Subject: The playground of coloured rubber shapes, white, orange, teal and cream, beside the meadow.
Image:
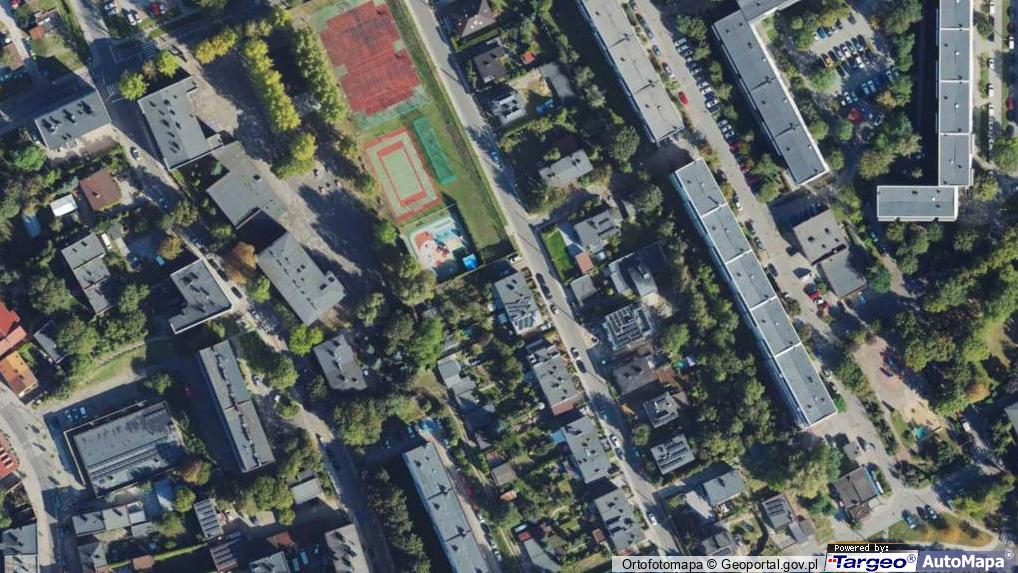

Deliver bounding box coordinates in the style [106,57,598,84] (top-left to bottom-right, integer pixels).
[402,210,482,280]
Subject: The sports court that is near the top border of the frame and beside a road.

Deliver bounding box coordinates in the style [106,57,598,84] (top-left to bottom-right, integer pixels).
[309,0,430,130]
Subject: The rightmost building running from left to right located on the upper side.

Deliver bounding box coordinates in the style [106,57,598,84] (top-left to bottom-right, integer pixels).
[873,186,956,221]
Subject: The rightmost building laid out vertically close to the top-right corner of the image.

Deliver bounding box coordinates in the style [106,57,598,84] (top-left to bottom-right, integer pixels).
[933,0,972,187]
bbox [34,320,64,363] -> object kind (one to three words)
house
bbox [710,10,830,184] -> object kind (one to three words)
building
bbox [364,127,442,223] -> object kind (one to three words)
sports court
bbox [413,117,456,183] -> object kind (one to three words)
sports court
